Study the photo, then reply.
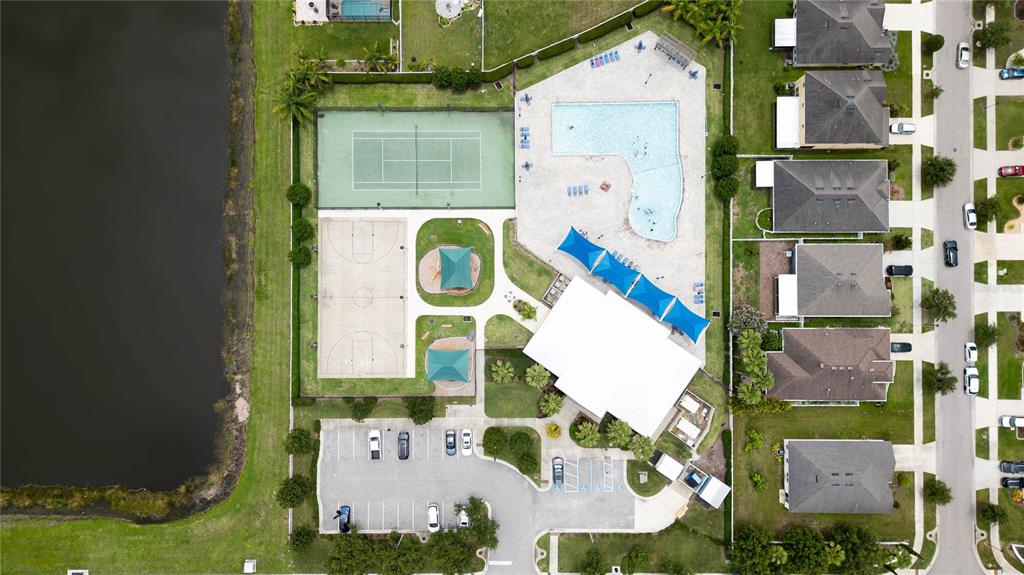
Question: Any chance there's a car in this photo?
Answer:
Yes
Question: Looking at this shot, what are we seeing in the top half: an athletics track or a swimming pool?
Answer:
swimming pool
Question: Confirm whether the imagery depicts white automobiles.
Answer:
Yes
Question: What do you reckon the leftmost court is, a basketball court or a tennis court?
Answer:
basketball court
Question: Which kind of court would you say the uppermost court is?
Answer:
tennis court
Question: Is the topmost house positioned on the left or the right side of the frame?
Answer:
right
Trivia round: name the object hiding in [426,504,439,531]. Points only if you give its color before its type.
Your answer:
white vehicle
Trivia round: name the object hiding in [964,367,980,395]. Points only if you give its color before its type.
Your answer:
white car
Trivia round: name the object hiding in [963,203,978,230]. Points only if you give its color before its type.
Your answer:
white car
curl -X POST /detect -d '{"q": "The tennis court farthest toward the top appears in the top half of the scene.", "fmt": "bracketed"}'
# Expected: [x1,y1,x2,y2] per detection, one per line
[318,111,515,208]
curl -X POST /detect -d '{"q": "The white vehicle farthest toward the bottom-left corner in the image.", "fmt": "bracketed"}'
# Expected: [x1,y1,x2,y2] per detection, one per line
[368,430,381,461]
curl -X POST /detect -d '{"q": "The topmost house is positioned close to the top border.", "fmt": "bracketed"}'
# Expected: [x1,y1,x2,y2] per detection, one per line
[771,0,893,68]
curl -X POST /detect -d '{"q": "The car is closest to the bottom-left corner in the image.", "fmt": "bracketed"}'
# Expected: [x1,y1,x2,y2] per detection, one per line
[333,505,351,533]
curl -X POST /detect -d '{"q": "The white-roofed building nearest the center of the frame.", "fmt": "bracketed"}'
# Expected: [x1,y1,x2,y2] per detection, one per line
[522,276,703,440]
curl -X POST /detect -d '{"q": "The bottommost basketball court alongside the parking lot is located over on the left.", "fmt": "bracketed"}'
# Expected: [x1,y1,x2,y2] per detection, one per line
[318,217,407,374]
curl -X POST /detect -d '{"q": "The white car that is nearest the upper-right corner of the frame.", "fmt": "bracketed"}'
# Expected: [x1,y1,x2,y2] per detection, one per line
[956,42,971,69]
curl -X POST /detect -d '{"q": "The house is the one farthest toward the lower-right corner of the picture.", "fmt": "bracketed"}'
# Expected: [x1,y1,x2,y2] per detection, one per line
[783,439,895,513]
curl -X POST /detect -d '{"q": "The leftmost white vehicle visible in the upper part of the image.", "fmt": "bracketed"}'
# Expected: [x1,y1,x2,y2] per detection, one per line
[890,122,916,134]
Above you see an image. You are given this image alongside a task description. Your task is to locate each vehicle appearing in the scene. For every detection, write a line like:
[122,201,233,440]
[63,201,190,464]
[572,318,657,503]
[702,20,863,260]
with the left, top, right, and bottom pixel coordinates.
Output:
[998,416,1024,429]
[457,503,469,530]
[1000,477,1024,490]
[552,458,564,485]
[890,122,916,134]
[333,505,351,533]
[998,165,1024,177]
[368,430,381,461]
[963,203,978,230]
[397,432,409,459]
[956,42,971,69]
[942,239,958,266]
[999,461,1024,474]
[891,342,914,354]
[426,504,439,531]
[964,367,980,395]
[998,66,1024,80]
[964,342,978,363]
[886,264,915,277]
[445,429,457,456]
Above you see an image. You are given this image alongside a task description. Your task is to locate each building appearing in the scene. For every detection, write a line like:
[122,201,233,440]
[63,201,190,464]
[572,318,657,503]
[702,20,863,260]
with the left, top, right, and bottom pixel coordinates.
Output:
[762,328,894,401]
[676,417,700,439]
[783,439,895,513]
[774,244,892,316]
[752,161,893,233]
[695,470,731,509]
[651,449,684,481]
[773,71,890,150]
[771,0,893,68]
[522,276,703,440]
